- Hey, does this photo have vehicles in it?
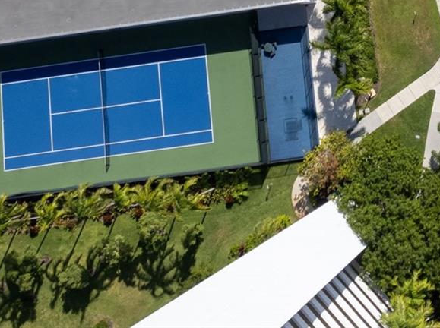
No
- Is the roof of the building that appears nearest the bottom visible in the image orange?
No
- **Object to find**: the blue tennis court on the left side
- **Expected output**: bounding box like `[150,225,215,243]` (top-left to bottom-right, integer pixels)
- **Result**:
[0,10,275,197]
